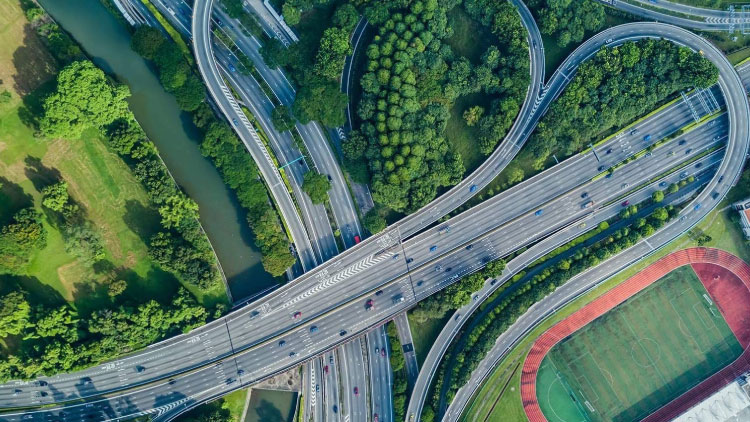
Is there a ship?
No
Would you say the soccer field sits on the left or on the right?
right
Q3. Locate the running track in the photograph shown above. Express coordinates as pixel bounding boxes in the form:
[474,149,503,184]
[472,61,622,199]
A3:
[520,247,750,422]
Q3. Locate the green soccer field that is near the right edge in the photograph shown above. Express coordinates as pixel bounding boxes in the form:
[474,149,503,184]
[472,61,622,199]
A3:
[546,264,746,422]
